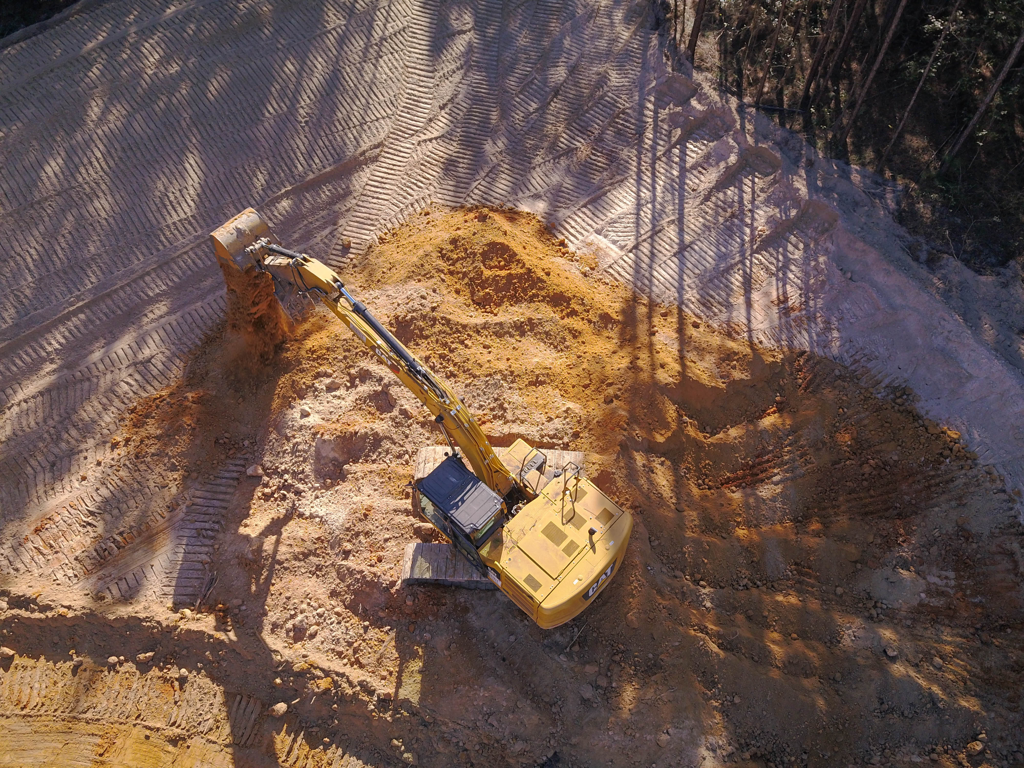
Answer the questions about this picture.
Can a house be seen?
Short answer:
No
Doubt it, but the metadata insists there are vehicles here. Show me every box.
[209,205,633,628]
